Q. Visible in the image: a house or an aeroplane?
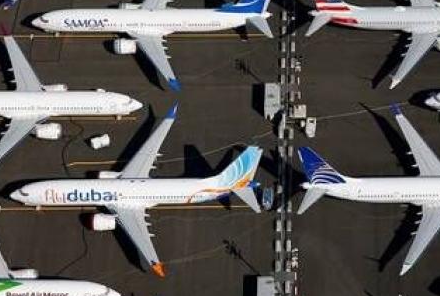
aeroplane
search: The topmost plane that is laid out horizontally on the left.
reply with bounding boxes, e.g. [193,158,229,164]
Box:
[30,0,273,88]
